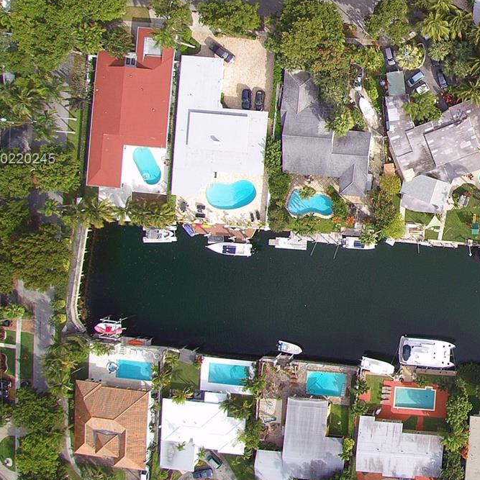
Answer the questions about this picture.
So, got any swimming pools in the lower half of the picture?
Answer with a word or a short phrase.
Yes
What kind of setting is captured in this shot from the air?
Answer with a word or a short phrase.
residential area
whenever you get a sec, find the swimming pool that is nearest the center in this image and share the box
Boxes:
[205,179,256,210]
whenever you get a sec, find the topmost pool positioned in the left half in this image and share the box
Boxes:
[130,146,162,185]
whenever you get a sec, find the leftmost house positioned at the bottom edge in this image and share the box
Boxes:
[74,377,157,471]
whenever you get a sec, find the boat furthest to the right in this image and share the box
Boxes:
[398,335,454,370]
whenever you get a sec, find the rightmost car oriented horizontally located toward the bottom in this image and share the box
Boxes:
[191,465,214,478]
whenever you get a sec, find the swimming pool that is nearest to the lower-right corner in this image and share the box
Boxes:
[392,386,436,411]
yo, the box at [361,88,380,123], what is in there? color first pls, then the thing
white boat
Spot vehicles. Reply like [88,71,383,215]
[253,89,264,110]
[191,465,214,478]
[203,449,224,471]
[413,82,432,96]
[0,380,12,391]
[0,319,20,329]
[239,88,252,110]
[405,70,427,89]
[436,72,449,90]
[384,45,396,69]
[138,464,151,480]
[209,40,234,62]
